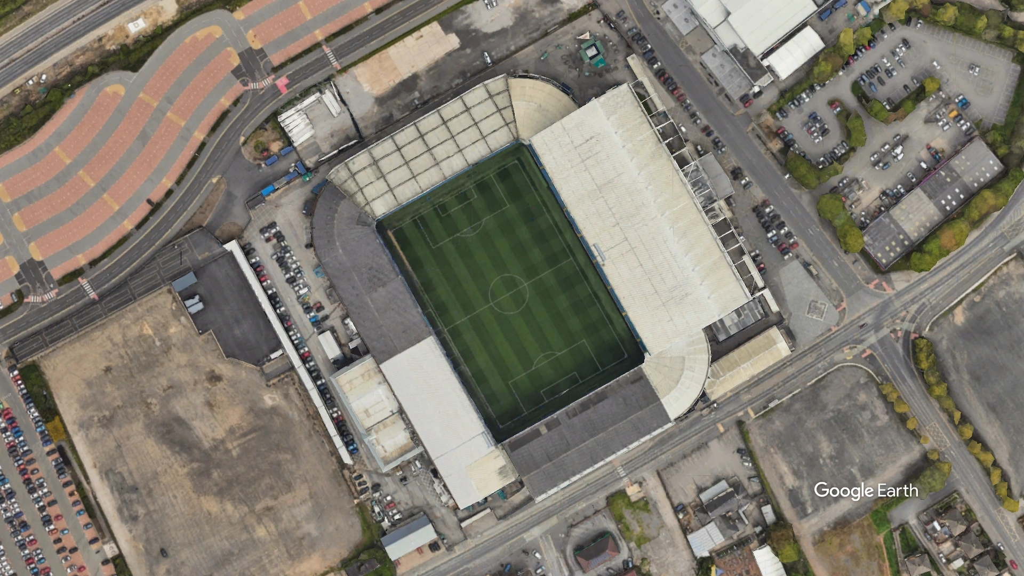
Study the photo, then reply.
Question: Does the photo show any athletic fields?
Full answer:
Yes, an athletic field appears in the view.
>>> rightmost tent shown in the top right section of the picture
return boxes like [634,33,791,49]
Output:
[766,26,825,81]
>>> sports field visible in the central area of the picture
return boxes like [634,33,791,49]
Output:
[389,158,629,430]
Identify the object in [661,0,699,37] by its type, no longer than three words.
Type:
building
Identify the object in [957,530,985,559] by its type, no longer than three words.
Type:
house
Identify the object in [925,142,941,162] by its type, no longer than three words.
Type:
vehicle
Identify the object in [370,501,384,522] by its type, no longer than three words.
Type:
vehicle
